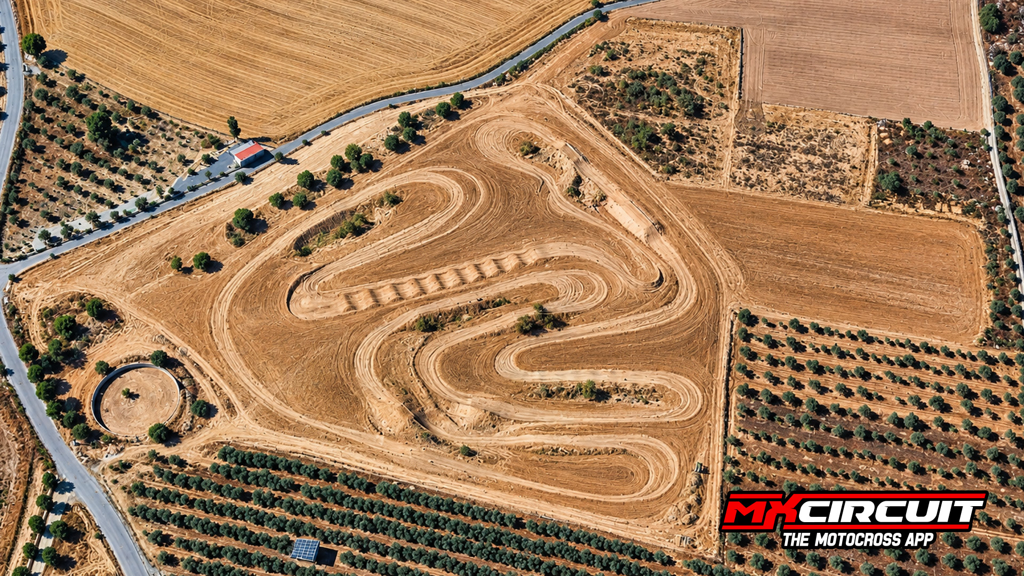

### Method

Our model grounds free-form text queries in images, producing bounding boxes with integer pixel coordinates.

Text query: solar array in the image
[292,538,319,564]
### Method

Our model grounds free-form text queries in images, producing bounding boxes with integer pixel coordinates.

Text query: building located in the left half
[230,138,266,168]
